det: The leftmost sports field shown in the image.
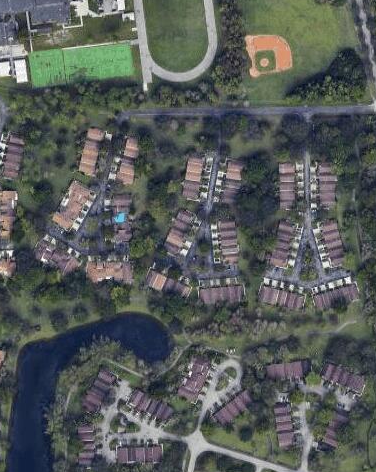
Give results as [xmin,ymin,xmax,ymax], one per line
[29,44,134,88]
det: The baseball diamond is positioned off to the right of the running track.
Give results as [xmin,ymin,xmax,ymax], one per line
[244,34,293,78]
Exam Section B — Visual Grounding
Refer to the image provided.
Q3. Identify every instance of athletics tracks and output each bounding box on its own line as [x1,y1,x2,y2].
[135,0,217,82]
